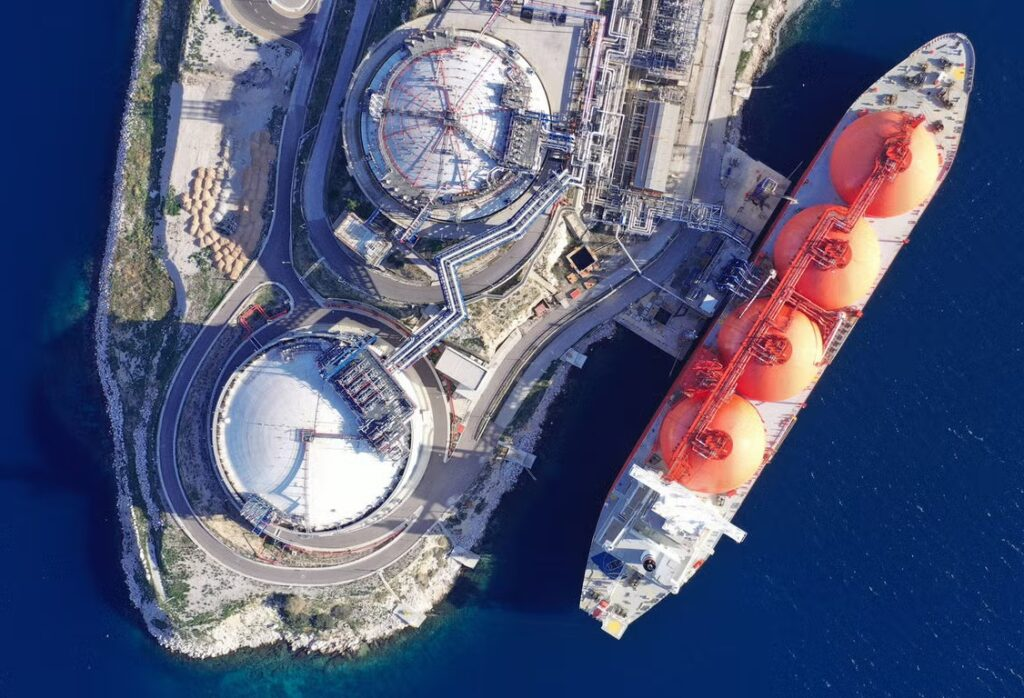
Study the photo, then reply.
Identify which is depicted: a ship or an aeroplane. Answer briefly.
ship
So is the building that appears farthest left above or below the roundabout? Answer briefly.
below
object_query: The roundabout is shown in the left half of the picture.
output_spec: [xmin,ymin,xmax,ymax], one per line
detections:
[226,0,351,56]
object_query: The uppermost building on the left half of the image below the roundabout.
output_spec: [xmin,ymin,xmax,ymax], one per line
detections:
[332,211,394,266]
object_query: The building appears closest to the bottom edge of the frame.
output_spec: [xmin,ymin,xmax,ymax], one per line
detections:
[434,345,489,391]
